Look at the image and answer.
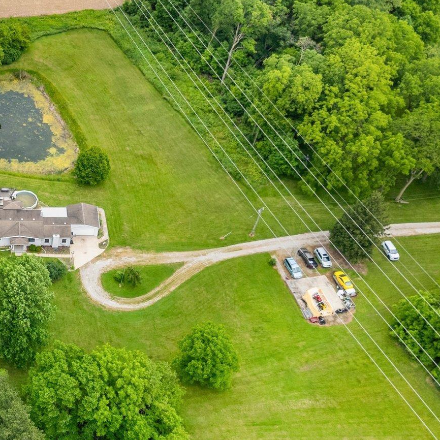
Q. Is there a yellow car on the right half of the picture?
Yes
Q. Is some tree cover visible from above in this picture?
Yes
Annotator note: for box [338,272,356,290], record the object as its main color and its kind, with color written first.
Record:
yellow car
